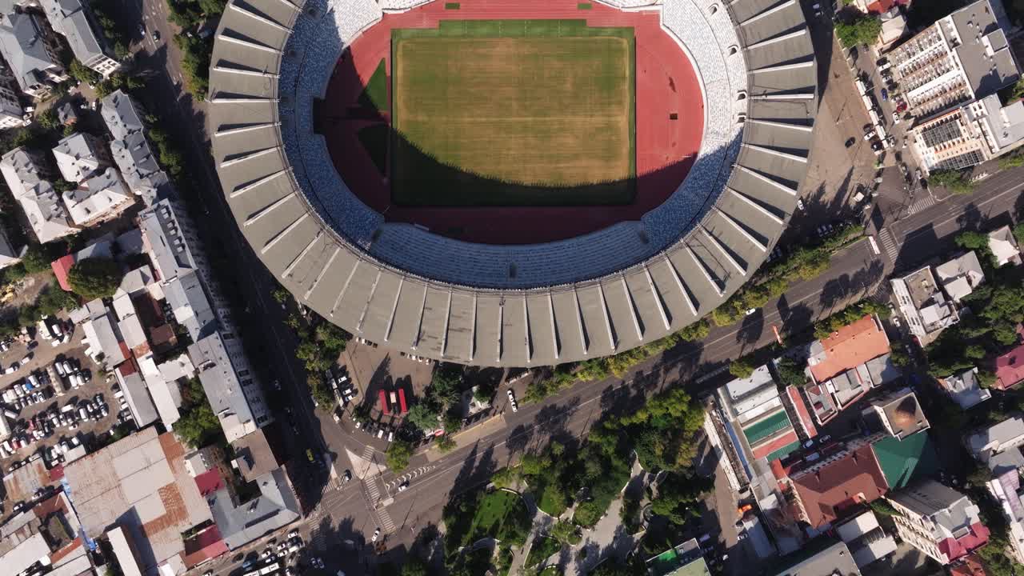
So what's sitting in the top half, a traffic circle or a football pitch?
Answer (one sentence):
The feature located in the top half is a football pitch.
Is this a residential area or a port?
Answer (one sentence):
What you see here is a residential area.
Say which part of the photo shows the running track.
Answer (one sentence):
You can find the running track in the top area of the picture.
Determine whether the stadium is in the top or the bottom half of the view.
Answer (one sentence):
The top half of the photo is where the stadium is.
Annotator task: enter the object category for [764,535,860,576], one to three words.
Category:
building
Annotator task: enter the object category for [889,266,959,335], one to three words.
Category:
house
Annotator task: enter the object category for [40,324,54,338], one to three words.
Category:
vehicle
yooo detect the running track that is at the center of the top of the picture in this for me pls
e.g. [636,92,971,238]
[313,0,704,245]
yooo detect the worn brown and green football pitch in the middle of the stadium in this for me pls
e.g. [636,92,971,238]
[391,20,636,207]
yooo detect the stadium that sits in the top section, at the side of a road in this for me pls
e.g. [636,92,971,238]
[210,0,816,368]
